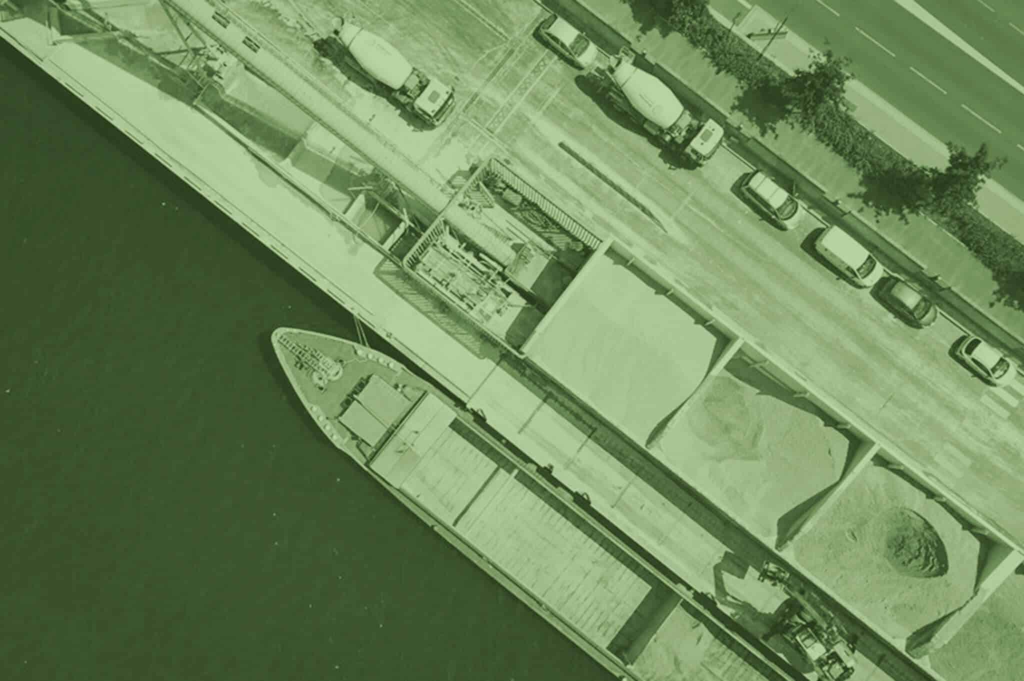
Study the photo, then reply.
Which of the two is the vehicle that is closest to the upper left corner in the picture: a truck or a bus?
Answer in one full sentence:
I'd say the vehicle that is closest to the upper left corner is a truck.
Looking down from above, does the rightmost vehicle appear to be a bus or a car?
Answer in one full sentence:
I'd say the rightmost vehicle is a car.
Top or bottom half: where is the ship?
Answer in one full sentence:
The ship sits in the bottom half of the picture.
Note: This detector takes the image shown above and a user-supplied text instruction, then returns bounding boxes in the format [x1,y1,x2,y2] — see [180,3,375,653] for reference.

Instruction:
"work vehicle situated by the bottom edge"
[755,553,874,681]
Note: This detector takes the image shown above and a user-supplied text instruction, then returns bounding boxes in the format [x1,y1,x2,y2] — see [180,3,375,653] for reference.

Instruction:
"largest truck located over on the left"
[327,11,464,132]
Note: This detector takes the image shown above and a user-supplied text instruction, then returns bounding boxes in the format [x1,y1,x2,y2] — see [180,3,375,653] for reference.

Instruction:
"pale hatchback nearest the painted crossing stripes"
[953,335,1015,388]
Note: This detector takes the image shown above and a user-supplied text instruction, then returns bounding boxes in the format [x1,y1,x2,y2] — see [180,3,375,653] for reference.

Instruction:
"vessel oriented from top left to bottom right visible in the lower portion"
[271,327,792,681]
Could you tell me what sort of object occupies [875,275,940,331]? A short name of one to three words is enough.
car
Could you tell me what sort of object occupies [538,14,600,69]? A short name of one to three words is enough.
car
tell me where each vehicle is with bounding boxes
[953,335,1015,388]
[538,14,600,69]
[327,11,464,132]
[741,171,806,231]
[813,226,884,287]
[755,553,874,681]
[600,46,735,171]
[875,275,940,331]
